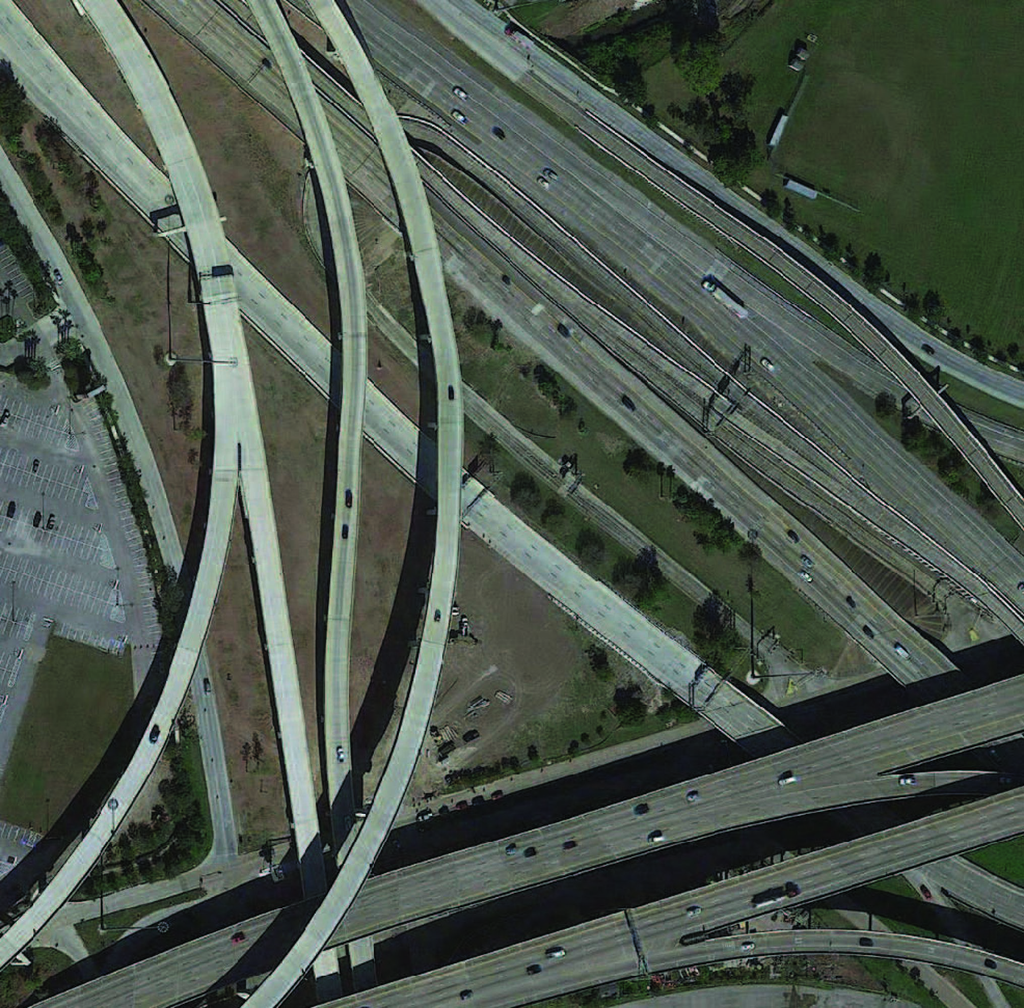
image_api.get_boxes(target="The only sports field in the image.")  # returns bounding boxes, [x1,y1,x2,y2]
[772,0,1024,330]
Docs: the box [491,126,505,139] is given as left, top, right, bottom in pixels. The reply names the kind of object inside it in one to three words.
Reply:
vehicle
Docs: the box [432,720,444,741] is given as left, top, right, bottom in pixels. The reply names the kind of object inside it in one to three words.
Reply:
vehicle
